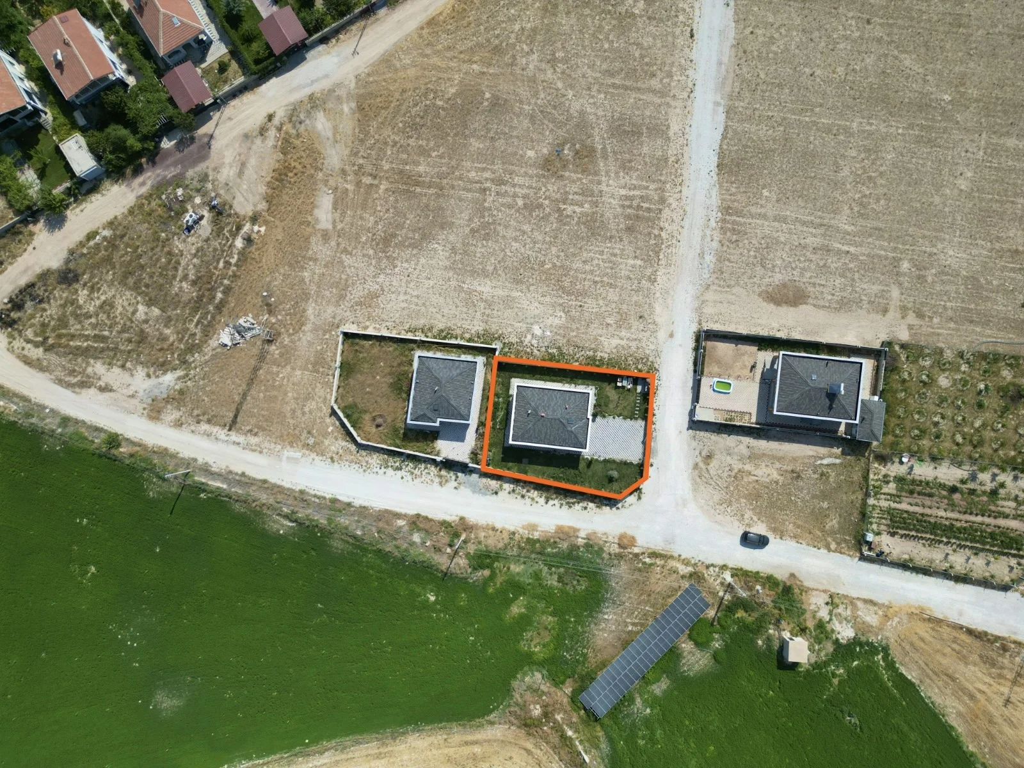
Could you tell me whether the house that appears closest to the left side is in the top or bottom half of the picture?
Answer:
top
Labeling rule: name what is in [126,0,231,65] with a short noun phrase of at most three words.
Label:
house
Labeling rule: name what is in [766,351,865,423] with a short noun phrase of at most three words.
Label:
house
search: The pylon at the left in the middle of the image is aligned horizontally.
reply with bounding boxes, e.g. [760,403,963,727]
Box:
[224,329,276,343]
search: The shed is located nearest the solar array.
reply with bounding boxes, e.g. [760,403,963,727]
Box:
[783,636,813,663]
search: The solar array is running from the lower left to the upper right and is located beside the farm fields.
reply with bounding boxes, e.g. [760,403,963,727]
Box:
[579,583,712,719]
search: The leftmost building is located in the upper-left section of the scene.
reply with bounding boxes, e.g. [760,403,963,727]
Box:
[0,44,43,137]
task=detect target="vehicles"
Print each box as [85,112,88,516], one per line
[740,533,769,550]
